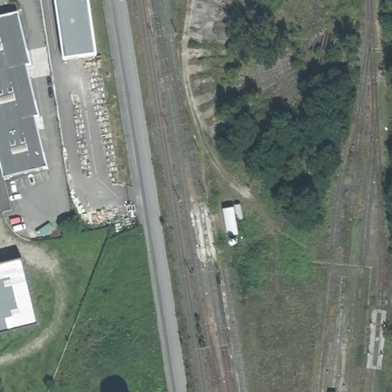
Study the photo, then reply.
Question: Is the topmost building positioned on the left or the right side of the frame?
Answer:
left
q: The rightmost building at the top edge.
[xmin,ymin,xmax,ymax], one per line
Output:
[54,0,98,60]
